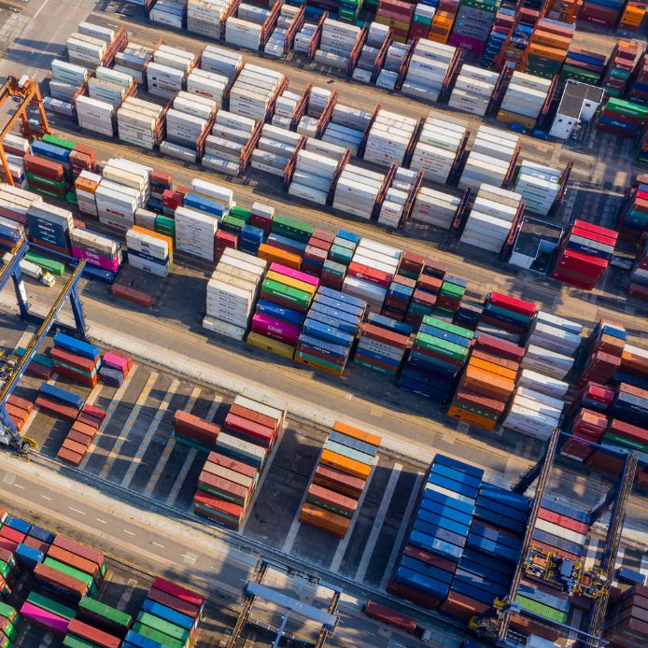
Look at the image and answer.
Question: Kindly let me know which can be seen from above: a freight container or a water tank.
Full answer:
Looking from above, you can make out a freight container.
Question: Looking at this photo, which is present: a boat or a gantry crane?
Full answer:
Visible in the photo is a gantry crane.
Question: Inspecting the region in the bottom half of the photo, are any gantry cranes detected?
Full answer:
Yes, in the bottom half of the photo there is a gantry crane.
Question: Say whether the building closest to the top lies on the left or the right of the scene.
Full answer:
The building closest to the top sits on the right side.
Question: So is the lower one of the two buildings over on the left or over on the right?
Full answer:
The lower one of the two buildings is on the right side of the image.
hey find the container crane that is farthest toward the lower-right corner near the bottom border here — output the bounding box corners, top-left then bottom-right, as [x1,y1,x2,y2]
[466,425,638,648]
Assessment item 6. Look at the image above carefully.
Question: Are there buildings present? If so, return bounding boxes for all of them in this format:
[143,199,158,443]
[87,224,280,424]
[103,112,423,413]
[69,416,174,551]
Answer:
[549,79,605,141]
[509,217,563,269]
